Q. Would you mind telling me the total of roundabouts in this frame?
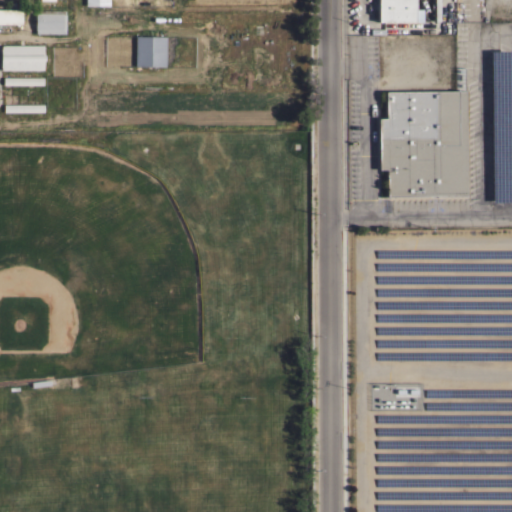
0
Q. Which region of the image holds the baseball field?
left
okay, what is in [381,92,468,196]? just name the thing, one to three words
building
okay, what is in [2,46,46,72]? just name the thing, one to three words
barn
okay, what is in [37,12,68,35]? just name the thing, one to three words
shed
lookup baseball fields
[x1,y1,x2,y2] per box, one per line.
[0,142,202,384]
